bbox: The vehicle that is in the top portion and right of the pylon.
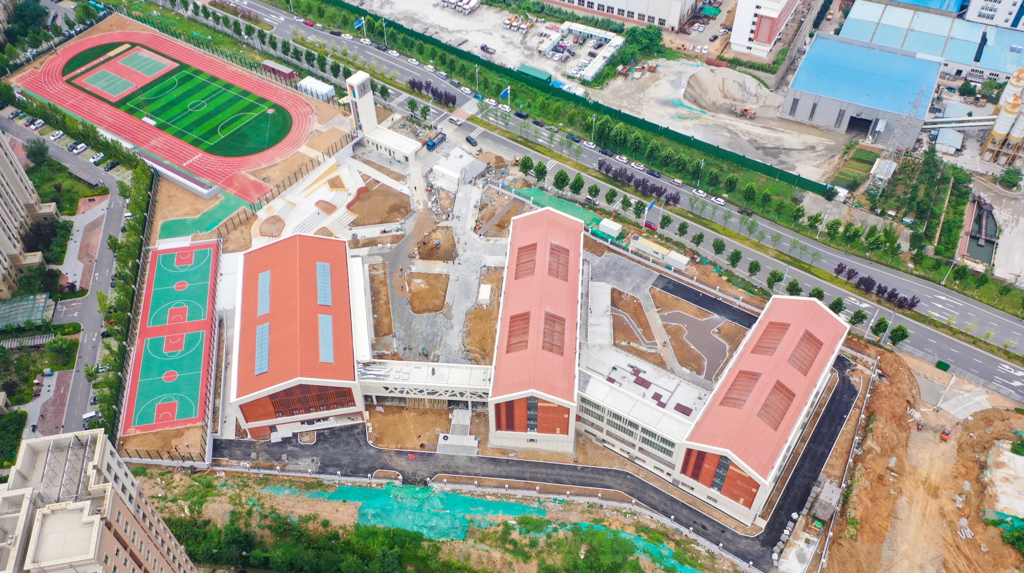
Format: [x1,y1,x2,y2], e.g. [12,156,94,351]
[960,92,989,107]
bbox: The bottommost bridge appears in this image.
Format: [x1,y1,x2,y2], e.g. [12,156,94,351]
[360,358,491,412]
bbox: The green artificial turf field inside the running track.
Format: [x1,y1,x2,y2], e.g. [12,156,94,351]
[62,41,292,156]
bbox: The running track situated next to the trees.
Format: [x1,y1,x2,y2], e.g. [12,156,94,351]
[10,31,316,203]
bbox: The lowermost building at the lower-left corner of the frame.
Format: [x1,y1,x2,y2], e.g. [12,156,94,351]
[0,429,185,573]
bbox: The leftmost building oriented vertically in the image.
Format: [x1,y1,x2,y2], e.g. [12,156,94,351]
[0,133,56,302]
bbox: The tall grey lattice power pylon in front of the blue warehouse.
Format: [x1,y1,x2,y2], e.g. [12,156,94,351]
[853,83,931,206]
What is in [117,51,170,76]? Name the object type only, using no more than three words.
sports court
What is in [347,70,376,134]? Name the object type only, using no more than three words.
building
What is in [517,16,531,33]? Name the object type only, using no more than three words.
vehicle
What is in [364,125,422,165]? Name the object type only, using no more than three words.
building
